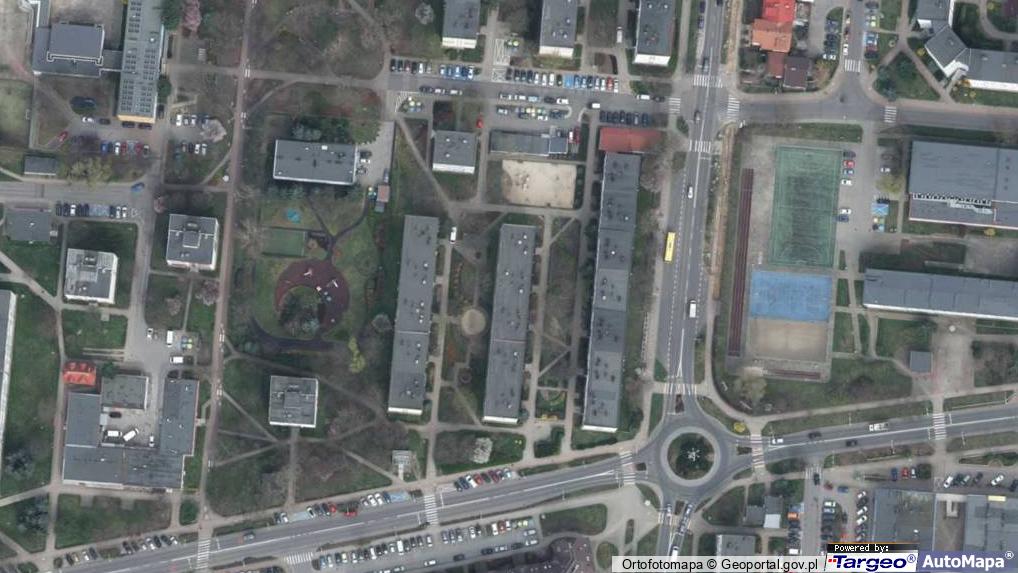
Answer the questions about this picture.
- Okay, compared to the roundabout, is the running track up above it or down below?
above it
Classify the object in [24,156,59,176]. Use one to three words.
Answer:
building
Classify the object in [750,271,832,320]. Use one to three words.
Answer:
sports court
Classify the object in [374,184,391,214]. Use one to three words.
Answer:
shed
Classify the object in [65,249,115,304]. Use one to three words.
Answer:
house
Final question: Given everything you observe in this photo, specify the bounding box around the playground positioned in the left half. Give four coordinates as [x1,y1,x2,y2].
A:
[262,247,352,340]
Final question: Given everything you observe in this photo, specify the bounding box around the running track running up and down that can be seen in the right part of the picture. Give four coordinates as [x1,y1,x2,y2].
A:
[727,168,754,356]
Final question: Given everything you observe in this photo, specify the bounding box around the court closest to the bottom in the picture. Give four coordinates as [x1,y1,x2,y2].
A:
[747,319,828,361]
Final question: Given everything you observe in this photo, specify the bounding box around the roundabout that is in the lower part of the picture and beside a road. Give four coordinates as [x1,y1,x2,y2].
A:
[619,384,752,532]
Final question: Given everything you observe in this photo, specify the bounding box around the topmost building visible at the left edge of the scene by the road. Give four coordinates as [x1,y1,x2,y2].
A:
[33,0,166,124]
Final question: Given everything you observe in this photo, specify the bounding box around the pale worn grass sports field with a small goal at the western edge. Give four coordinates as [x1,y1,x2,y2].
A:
[0,82,29,138]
